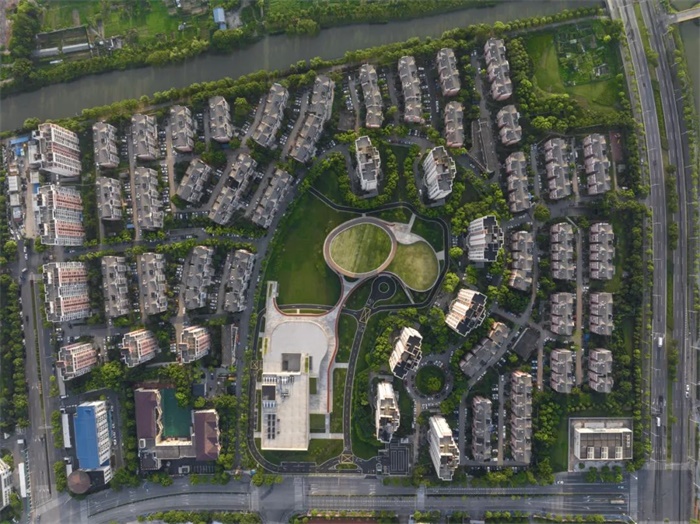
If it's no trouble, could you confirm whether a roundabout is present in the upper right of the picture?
No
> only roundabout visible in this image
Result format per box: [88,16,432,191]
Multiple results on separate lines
[407,357,453,402]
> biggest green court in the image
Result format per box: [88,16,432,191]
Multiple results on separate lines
[162,386,193,437]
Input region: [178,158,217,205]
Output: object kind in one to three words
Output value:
building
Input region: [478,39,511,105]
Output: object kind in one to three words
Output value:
building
